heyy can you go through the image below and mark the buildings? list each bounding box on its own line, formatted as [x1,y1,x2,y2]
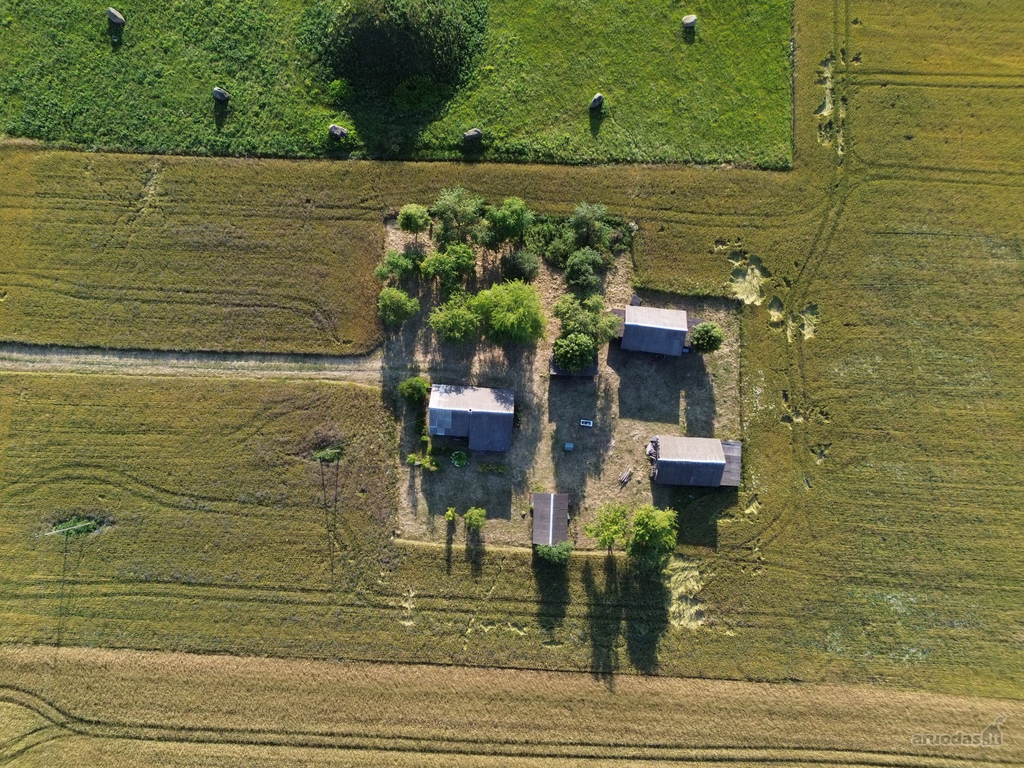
[651,435,741,487]
[548,340,599,378]
[531,491,570,546]
[428,384,515,457]
[608,305,697,354]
